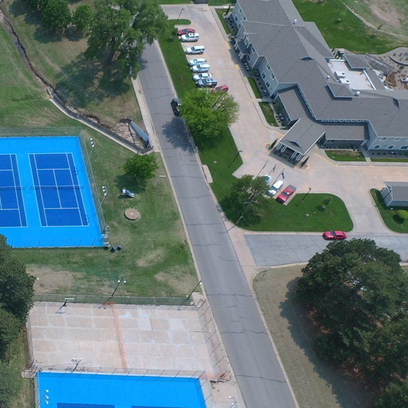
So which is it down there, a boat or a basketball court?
basketball court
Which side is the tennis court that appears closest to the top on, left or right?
left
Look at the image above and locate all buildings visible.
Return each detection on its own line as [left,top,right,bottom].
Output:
[378,182,408,208]
[230,0,408,165]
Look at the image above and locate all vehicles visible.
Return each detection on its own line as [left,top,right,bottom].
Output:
[177,27,196,34]
[186,44,206,54]
[185,31,200,42]
[170,100,182,115]
[191,62,211,73]
[197,76,218,88]
[262,170,275,185]
[278,183,298,201]
[218,81,231,92]
[269,177,286,195]
[193,72,213,81]
[322,231,347,241]
[188,57,208,67]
